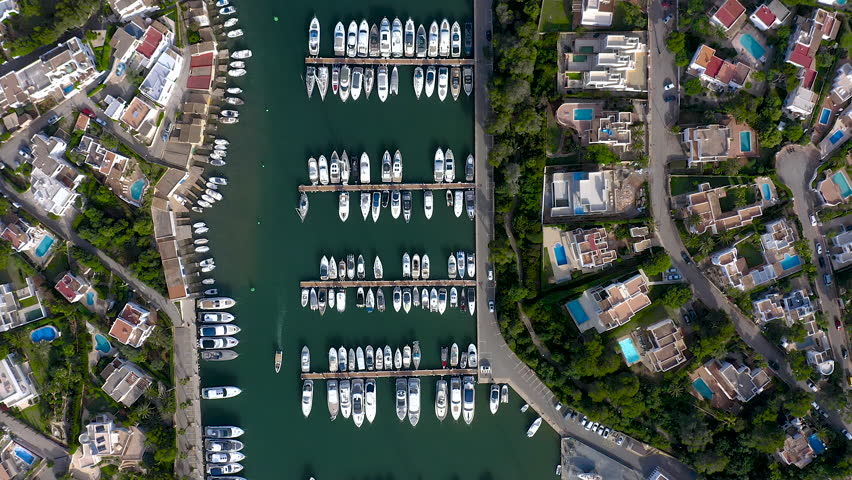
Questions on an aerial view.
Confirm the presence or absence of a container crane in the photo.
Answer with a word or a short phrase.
No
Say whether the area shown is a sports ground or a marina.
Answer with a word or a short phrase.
marina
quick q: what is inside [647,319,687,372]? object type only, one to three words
house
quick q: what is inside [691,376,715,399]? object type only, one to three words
swimming pool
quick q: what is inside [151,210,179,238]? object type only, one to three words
building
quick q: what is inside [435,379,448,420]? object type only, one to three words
boat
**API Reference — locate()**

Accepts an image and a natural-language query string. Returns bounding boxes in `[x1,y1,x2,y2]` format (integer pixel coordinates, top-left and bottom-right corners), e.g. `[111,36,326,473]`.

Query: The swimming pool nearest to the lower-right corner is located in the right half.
[808,433,826,455]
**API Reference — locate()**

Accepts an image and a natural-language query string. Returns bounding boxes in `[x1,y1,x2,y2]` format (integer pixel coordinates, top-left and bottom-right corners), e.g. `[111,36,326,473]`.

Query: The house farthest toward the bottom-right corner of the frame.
[770,417,815,470]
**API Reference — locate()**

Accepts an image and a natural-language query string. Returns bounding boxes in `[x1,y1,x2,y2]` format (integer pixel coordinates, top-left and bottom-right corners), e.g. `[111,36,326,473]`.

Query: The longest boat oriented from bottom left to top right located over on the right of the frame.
[526,418,541,437]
